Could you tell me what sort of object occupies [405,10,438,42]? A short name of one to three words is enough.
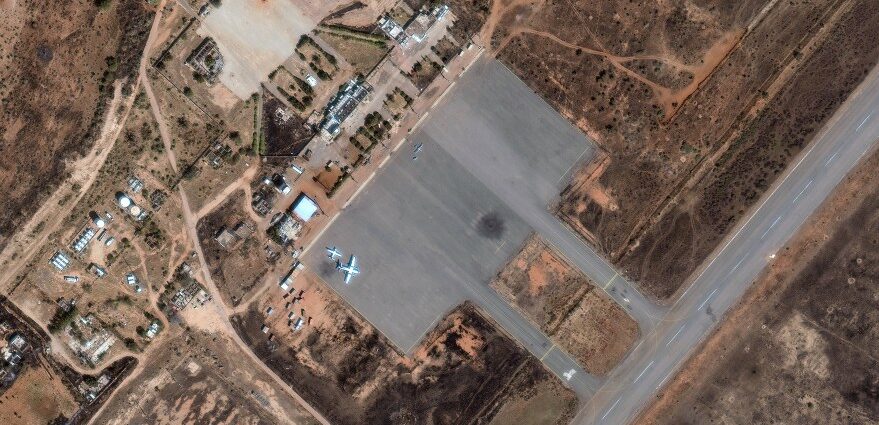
building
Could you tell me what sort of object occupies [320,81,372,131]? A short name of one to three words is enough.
building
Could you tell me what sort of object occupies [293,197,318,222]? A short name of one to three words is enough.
hangar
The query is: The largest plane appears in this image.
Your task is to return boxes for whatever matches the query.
[336,256,360,283]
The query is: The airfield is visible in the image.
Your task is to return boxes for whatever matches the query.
[299,50,879,425]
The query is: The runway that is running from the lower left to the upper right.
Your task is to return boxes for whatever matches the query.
[561,62,879,425]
